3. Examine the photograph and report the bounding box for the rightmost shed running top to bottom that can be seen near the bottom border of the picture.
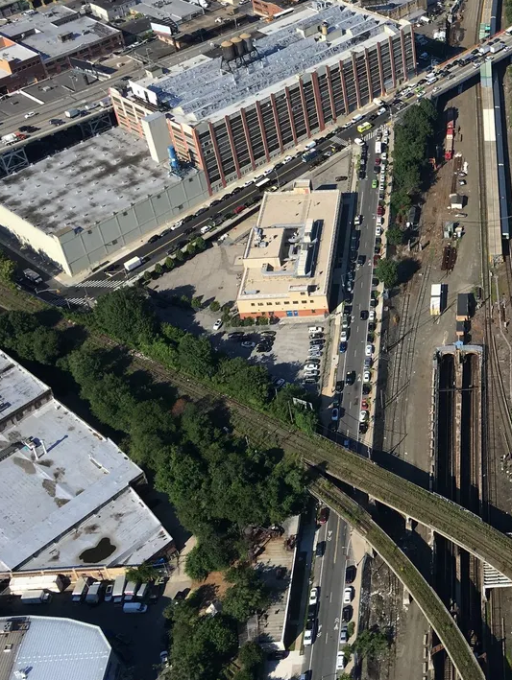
[257,514,304,659]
